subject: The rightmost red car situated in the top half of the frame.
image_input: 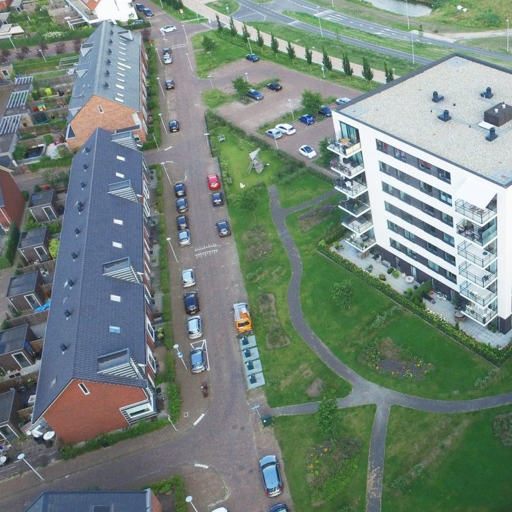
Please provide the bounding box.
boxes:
[205,174,220,190]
